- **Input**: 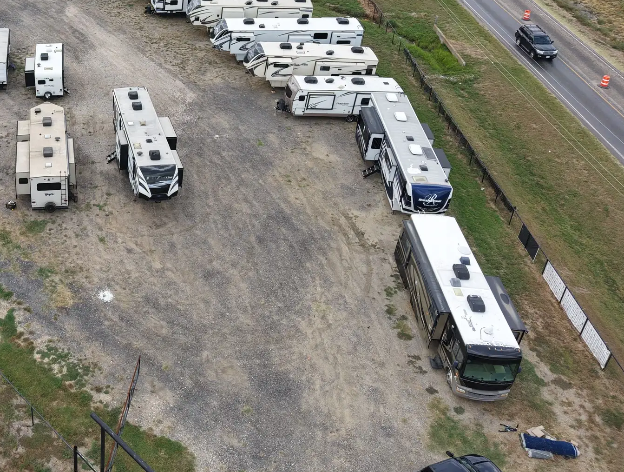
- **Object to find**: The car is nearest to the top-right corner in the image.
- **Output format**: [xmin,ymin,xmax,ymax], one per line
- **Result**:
[515,24,558,57]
